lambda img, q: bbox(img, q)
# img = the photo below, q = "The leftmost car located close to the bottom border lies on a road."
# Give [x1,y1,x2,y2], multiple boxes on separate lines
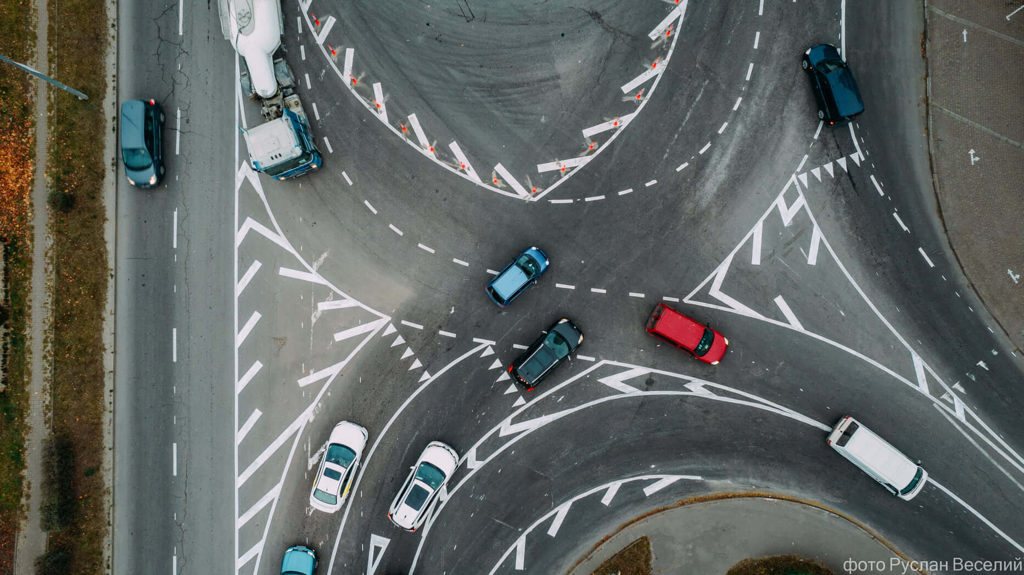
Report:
[276,544,318,575]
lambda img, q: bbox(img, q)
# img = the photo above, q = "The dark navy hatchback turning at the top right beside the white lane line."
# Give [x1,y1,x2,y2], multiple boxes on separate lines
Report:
[805,45,861,125]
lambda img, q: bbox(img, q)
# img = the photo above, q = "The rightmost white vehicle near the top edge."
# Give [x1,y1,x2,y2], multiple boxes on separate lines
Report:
[215,0,322,183]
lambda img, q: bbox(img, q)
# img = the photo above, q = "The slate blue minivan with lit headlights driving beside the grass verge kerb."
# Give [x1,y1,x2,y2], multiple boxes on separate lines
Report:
[119,103,166,187]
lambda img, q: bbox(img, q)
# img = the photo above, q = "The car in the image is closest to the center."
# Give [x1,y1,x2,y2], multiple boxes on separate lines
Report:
[485,245,549,307]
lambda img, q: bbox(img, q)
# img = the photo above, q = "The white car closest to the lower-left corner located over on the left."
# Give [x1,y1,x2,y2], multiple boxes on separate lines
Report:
[309,422,369,513]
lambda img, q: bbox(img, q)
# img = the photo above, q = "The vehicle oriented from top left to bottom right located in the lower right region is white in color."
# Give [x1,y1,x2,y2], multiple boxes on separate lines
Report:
[827,418,925,499]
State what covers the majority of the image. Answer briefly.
paved ground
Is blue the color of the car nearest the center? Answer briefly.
Yes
